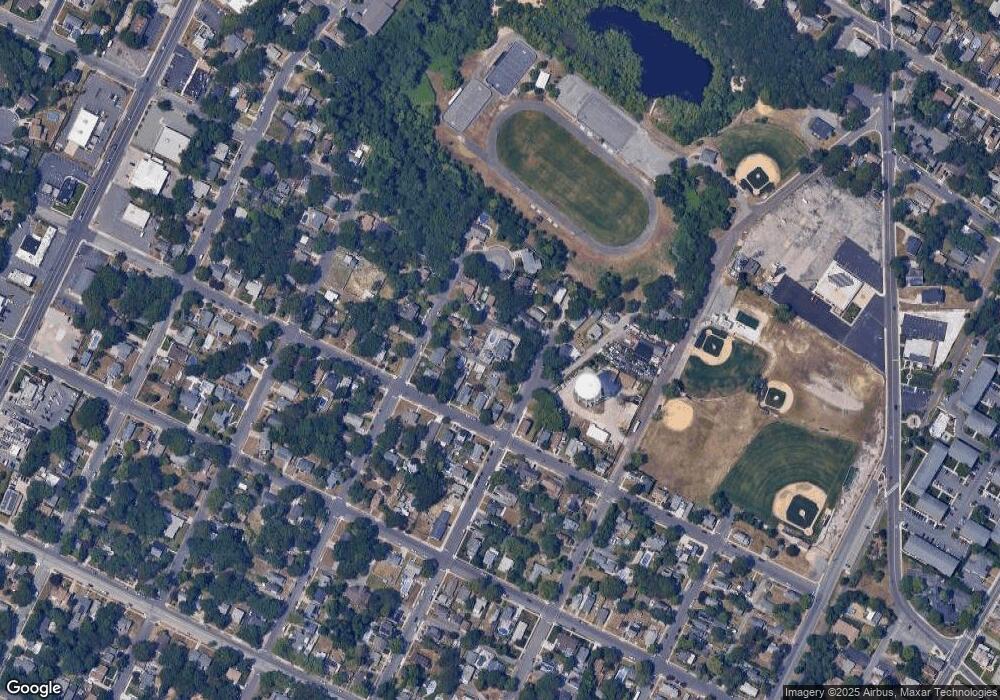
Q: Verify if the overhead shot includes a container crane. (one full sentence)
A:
No, no container crane can be seen from above.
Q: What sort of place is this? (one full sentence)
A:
The picture captures a residential area.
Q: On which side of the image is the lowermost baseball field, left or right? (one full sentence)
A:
It is on the right.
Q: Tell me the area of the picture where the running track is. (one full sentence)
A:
The running track sits in the top section of the image.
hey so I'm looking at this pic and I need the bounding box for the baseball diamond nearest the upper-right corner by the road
[721,117,809,206]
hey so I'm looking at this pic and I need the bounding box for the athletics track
[486,99,658,258]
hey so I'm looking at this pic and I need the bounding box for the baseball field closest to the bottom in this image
[714,420,858,539]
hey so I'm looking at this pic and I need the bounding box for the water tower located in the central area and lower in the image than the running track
[573,373,609,412]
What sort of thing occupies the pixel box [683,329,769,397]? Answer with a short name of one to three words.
baseball field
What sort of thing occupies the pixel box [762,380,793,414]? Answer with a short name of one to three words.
baseball field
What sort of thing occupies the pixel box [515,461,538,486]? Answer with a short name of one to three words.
house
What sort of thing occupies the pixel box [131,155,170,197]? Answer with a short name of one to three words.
building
